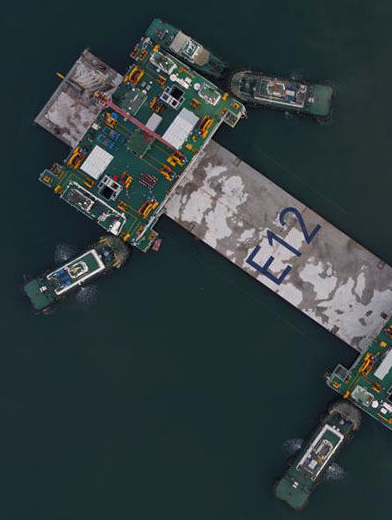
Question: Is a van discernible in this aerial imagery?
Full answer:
No, there's no van here.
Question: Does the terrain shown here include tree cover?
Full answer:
No, there's no tree cover in this view.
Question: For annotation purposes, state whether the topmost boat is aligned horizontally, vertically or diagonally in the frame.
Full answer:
The topmost boat is oriented diagonally.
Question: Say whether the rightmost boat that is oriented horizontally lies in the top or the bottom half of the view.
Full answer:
Seen from above, the rightmost boat that is oriented horizontally lies in the top half of the view.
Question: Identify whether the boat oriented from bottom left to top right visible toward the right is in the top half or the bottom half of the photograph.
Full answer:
The boat oriented from bottom left to top right visible toward the right sits in the bottom half of the picture.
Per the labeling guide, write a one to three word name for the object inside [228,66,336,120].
boat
